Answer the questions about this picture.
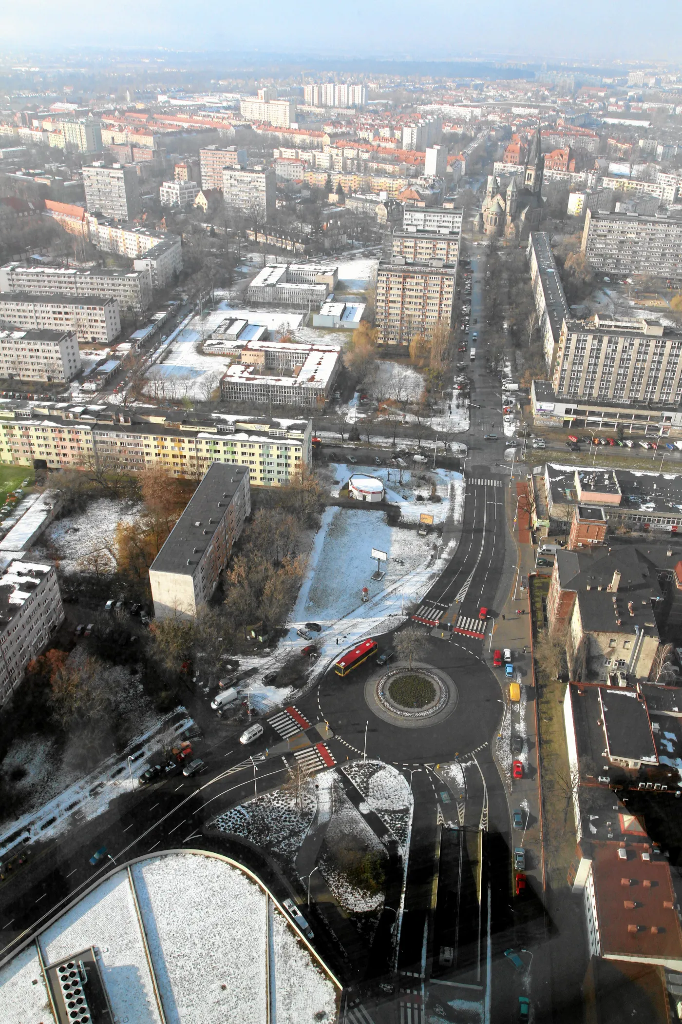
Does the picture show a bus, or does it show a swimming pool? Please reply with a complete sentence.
There is a bus in the scene.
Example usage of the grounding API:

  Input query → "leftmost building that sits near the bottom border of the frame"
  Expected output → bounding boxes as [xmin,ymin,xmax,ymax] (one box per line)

[0,849,343,1024]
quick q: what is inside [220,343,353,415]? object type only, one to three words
building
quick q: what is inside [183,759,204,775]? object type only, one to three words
car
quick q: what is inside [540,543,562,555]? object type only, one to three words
vehicle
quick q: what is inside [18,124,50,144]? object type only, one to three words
house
